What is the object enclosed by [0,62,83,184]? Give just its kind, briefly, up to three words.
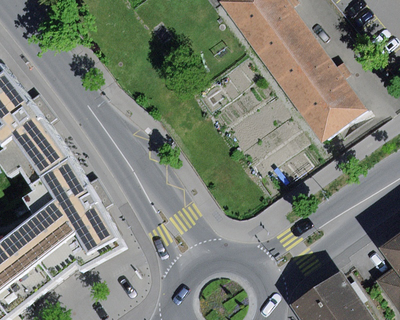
building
